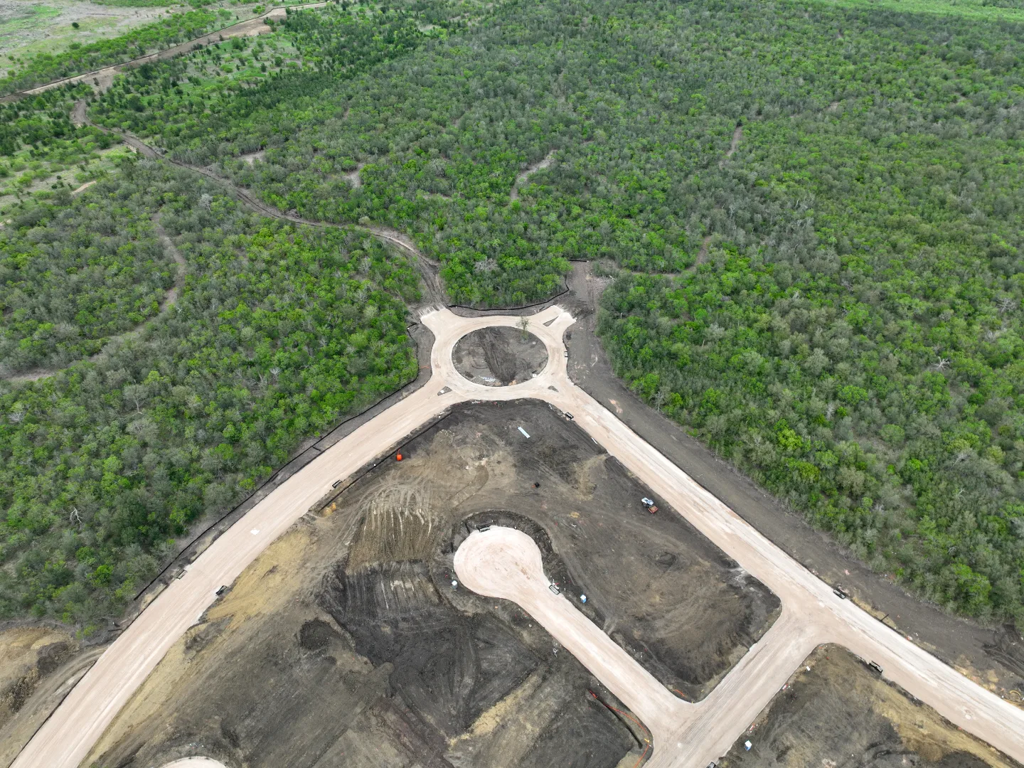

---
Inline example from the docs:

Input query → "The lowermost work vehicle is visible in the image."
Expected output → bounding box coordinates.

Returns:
[642,496,664,517]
